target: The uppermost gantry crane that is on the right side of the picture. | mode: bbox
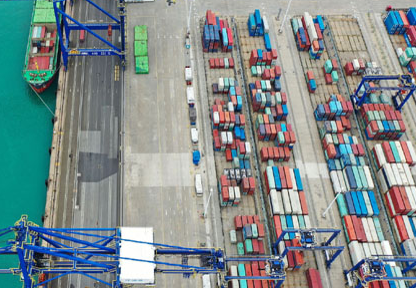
[350,73,416,113]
